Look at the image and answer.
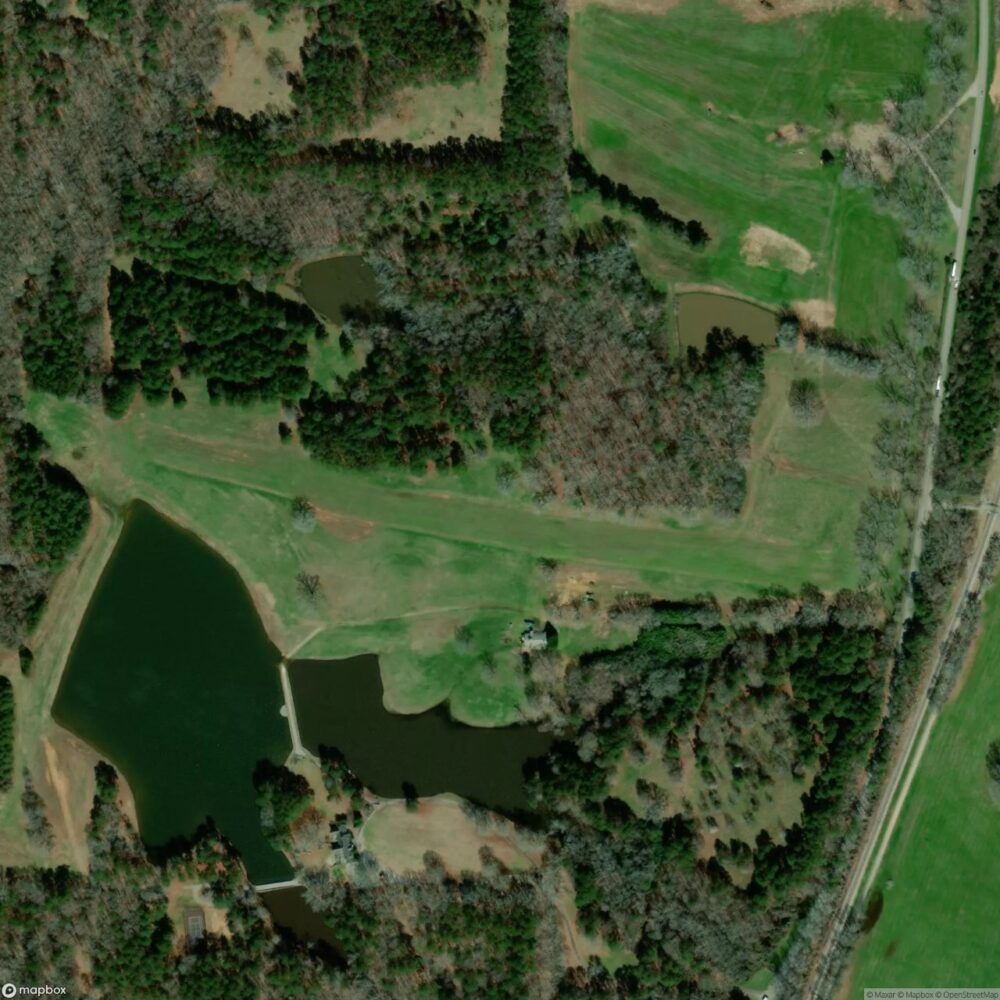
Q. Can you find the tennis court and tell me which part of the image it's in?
bottom left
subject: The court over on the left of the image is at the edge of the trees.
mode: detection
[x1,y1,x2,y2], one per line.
[186,907,206,943]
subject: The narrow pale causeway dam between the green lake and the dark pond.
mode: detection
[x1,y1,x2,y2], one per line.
[278,659,304,754]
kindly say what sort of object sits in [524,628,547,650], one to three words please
house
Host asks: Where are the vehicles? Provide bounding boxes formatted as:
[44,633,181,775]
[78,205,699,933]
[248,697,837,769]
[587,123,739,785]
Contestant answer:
[951,260,957,278]
[937,376,942,393]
